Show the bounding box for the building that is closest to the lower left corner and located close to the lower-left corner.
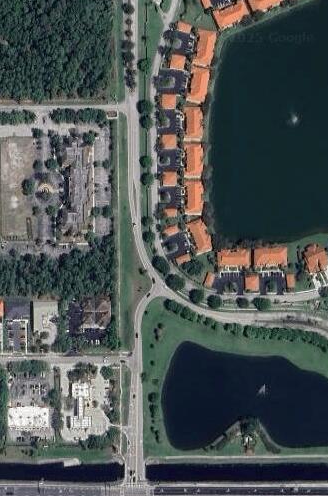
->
[6,408,49,429]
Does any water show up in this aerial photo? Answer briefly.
Yes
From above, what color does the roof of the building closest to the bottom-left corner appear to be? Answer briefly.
white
